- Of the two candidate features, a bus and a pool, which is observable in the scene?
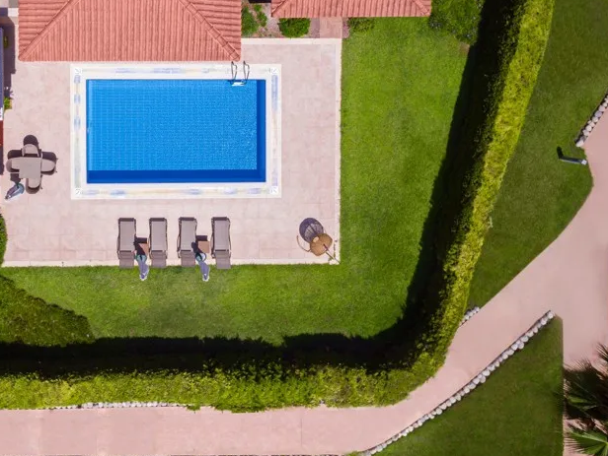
pool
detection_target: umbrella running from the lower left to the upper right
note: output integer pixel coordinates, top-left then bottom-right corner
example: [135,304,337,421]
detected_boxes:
[4,182,23,201]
